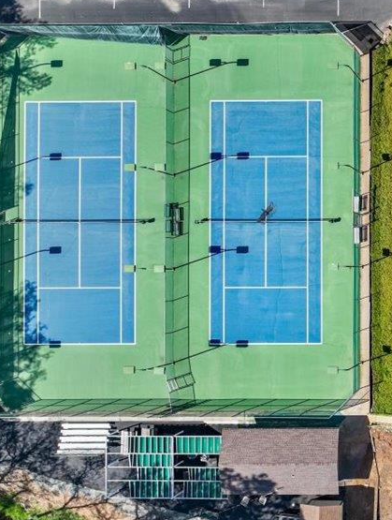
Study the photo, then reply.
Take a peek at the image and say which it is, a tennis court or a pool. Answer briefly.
tennis court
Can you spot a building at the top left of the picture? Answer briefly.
No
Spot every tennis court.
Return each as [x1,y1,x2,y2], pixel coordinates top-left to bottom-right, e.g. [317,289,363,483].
[173,35,358,407]
[0,36,173,407]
